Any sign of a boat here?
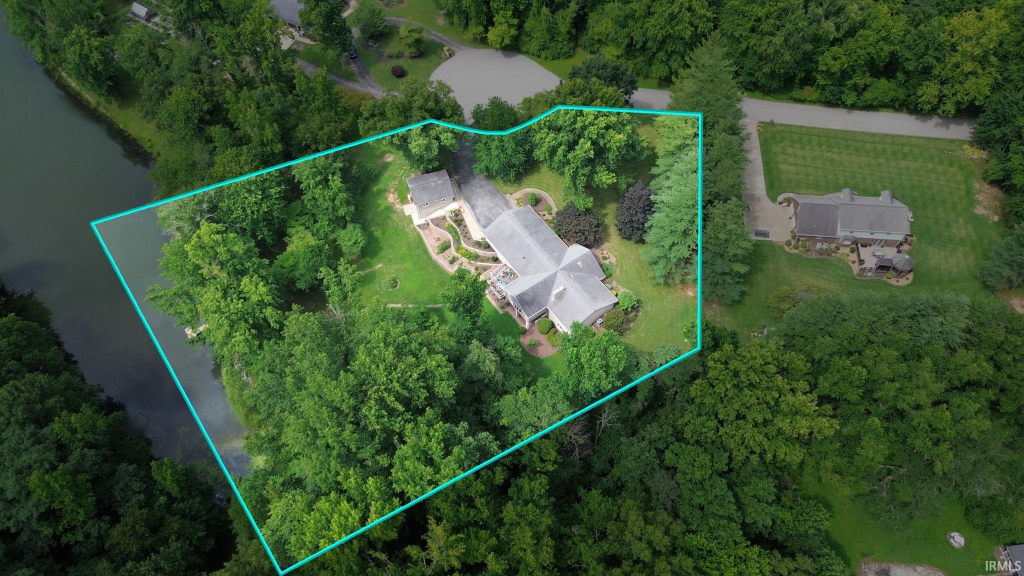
No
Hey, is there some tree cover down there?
Yes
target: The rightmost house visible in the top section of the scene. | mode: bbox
[787,188,920,249]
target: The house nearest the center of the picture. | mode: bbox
[482,205,617,339]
